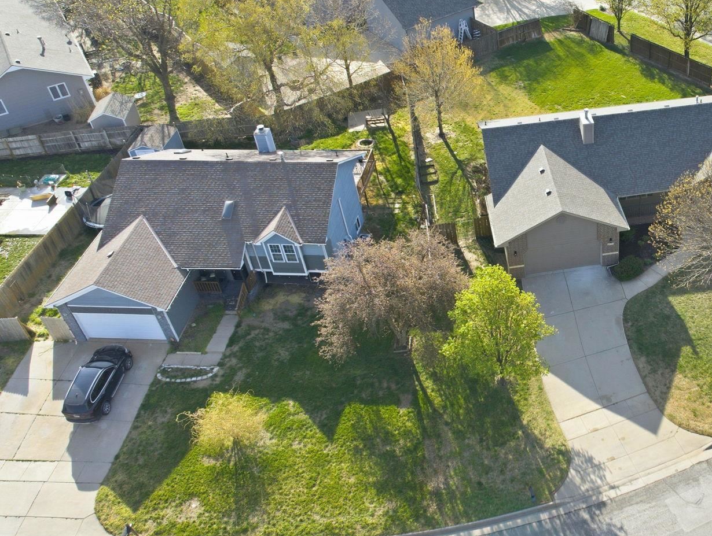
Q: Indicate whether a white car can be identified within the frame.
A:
No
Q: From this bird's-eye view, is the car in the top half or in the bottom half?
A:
bottom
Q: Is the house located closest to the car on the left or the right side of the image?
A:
left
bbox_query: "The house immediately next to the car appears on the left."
[47,122,389,342]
